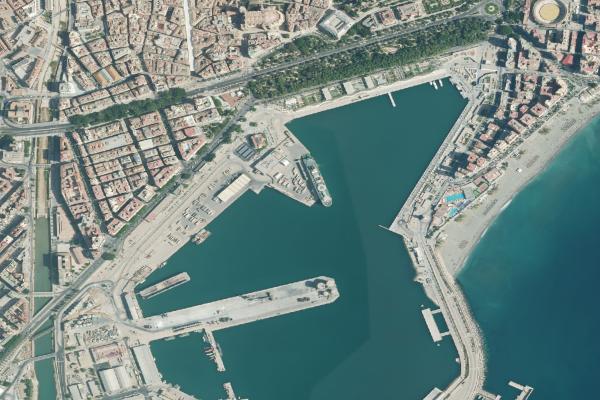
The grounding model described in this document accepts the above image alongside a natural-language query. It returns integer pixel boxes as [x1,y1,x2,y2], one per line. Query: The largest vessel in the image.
[304,153,333,208]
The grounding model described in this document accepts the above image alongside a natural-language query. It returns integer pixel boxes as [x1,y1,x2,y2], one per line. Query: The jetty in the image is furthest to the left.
[135,271,190,300]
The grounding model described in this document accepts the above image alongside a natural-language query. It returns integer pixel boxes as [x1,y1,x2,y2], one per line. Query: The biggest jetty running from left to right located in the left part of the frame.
[140,275,339,344]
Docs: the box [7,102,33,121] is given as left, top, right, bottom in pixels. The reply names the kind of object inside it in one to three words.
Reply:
house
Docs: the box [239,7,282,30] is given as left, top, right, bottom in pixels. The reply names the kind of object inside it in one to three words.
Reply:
building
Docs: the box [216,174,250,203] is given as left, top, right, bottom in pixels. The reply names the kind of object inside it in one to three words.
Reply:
building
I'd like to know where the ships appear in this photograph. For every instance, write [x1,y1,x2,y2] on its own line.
[193,231,210,244]
[304,153,333,208]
